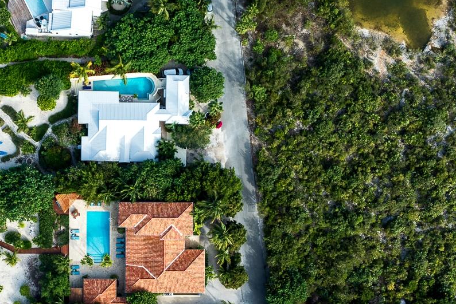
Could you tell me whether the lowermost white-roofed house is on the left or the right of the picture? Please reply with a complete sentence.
The lowermost white-roofed house is on the left side of the image.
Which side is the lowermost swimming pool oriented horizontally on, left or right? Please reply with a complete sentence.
The lowermost swimming pool oriented horizontally is on the left side of the image.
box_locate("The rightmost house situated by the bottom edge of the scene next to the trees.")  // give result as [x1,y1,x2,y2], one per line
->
[118,201,205,296]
